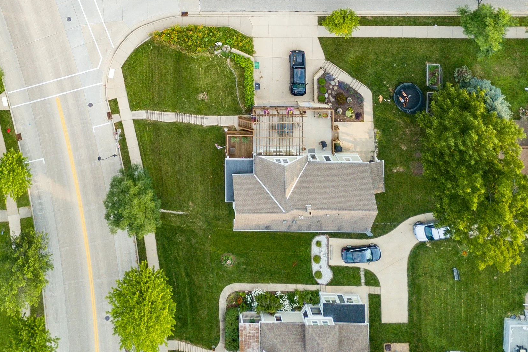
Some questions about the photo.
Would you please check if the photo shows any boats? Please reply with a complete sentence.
No, no boat can be seen from above.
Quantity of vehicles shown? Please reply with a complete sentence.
Looking from above, you can make out 3 vehicles.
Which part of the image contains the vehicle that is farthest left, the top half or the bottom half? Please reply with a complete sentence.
The vehicle that is farthest left sits in the top half of the picture.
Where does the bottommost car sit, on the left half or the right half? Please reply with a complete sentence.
The bottommost car appears in the right half of the scene.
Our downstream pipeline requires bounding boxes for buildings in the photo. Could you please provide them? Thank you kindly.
[239,289,369,352]
[506,302,528,352]
[224,136,385,236]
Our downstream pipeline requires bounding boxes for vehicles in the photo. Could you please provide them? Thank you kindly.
[288,49,309,96]
[341,243,381,265]
[410,220,457,244]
